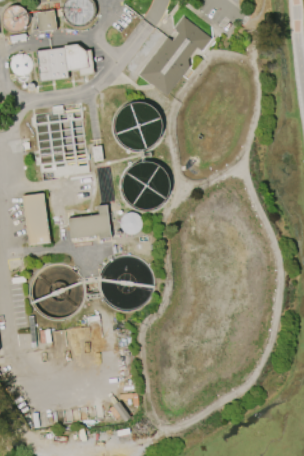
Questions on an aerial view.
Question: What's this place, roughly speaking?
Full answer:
The area seen from above is an industrial area.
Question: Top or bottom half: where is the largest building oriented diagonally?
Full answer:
Seen from above, the largest building oriented diagonally lies in the top half of the view.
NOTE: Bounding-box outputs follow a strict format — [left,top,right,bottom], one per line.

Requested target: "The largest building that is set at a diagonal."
[140,16,210,96]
